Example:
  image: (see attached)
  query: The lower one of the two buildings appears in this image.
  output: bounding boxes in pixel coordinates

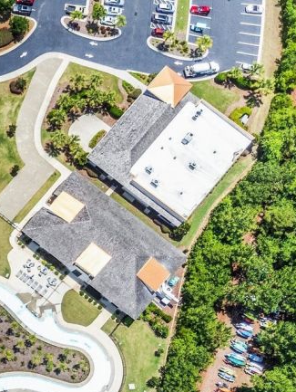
[21,170,186,319]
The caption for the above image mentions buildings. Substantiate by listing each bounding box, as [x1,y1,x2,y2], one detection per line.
[21,170,186,319]
[85,65,256,226]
